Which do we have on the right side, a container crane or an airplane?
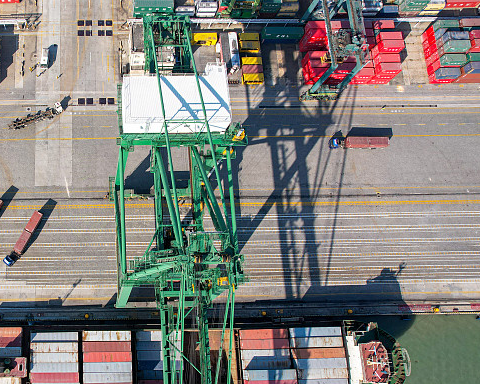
container crane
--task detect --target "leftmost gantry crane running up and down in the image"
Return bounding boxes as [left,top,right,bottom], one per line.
[102,10,265,384]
